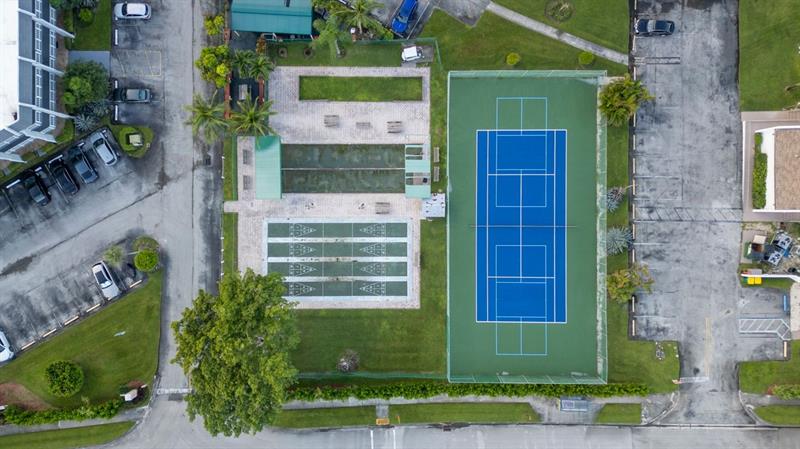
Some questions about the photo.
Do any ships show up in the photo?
No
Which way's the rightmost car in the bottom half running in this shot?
diagonally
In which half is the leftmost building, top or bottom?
top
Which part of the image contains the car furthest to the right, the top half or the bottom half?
top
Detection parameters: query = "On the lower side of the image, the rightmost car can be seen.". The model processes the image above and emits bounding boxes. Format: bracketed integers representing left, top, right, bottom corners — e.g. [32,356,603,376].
[88,262,120,300]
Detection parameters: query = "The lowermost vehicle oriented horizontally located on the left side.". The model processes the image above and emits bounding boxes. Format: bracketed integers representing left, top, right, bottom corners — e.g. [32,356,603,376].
[109,84,149,102]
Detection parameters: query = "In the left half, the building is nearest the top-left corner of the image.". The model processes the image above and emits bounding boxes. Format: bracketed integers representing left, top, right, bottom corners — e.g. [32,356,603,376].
[0,0,73,166]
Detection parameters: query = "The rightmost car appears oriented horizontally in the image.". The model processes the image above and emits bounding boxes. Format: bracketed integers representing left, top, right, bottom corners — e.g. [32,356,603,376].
[637,15,677,35]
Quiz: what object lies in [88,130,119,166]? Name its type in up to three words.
car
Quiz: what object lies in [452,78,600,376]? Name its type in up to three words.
tennis court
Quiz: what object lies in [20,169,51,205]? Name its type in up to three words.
car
